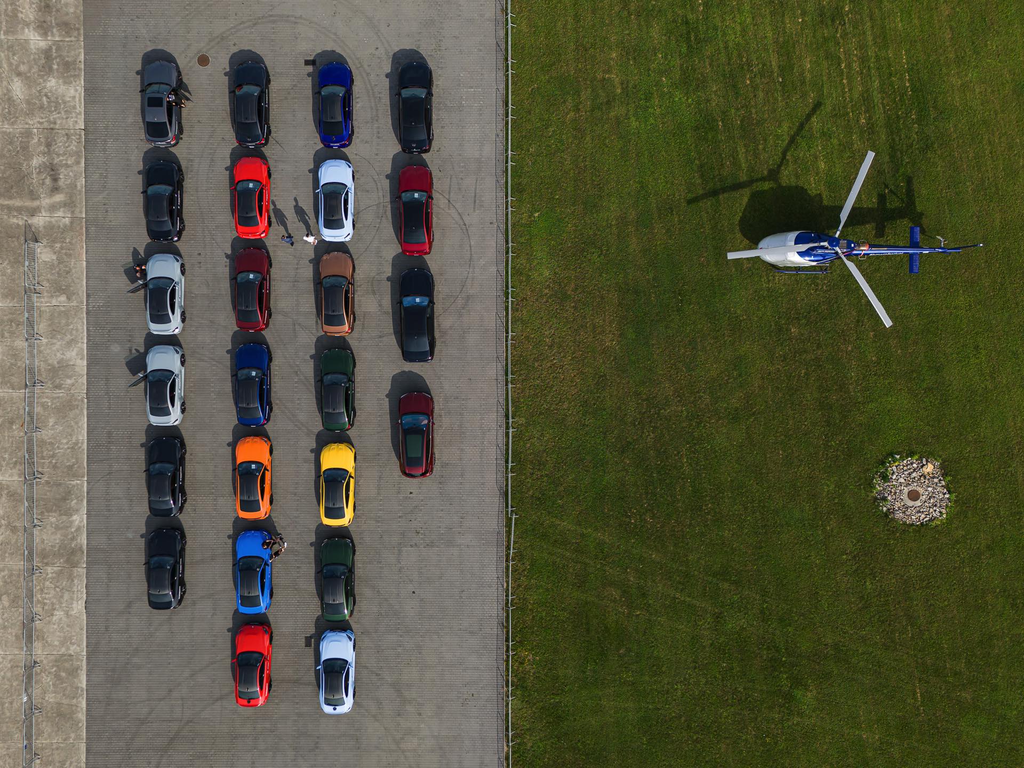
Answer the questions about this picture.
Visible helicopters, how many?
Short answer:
1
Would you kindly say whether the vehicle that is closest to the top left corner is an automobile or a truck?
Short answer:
automobile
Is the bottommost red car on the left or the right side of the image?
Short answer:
left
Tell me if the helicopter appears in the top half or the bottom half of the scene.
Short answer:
top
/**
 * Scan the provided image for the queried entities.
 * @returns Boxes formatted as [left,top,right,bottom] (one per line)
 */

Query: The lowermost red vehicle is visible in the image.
[230,623,273,709]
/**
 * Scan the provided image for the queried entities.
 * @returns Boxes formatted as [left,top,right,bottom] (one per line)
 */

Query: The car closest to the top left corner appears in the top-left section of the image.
[138,60,195,149]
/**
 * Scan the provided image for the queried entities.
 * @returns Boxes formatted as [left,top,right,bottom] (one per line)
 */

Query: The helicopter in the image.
[730,151,983,328]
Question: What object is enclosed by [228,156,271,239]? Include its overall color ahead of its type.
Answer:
red car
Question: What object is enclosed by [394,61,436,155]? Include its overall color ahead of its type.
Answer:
black car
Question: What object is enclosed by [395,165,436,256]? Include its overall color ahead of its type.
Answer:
red car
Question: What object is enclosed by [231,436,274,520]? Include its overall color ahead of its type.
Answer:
orange car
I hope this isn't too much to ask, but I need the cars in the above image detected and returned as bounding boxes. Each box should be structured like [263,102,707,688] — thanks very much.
[313,61,355,149]
[315,629,356,716]
[316,347,357,431]
[394,61,436,155]
[231,529,274,614]
[396,268,438,363]
[142,528,187,610]
[395,392,437,479]
[123,254,186,334]
[314,159,355,242]
[315,252,356,336]
[138,60,195,149]
[229,248,272,332]
[395,165,436,256]
[140,160,185,243]
[229,61,272,149]
[316,537,357,622]
[231,436,274,520]
[230,343,273,427]
[230,623,273,709]
[143,437,188,517]
[316,442,357,527]
[228,156,271,239]
[124,345,186,425]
